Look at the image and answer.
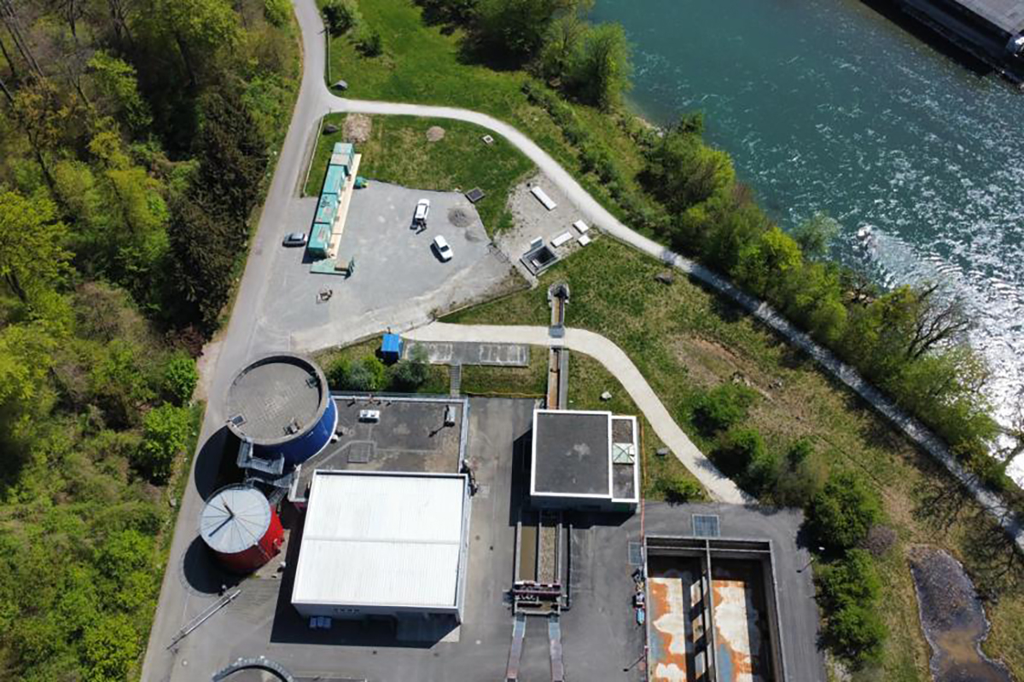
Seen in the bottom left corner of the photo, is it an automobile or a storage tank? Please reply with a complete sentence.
The one visible in the bottom left corner of the photo is a storage tank.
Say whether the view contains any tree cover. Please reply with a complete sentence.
Yes, there is tree cover in the image.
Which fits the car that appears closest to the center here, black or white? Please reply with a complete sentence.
The car that appears closest to the center looks white in the image.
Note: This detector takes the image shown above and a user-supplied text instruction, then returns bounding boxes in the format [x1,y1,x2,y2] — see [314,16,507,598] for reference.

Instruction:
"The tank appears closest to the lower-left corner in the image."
[199,480,289,574]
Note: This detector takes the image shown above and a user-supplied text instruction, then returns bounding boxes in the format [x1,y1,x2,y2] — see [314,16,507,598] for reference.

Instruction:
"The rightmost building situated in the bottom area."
[531,410,640,514]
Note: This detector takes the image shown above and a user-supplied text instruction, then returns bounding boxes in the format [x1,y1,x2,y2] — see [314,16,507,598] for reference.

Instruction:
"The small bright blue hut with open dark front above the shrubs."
[382,325,401,359]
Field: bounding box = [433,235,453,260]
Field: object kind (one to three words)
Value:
car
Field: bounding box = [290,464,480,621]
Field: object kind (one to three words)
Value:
building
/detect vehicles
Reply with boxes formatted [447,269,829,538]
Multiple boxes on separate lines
[433,235,453,260]
[281,232,308,247]
[411,201,429,225]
